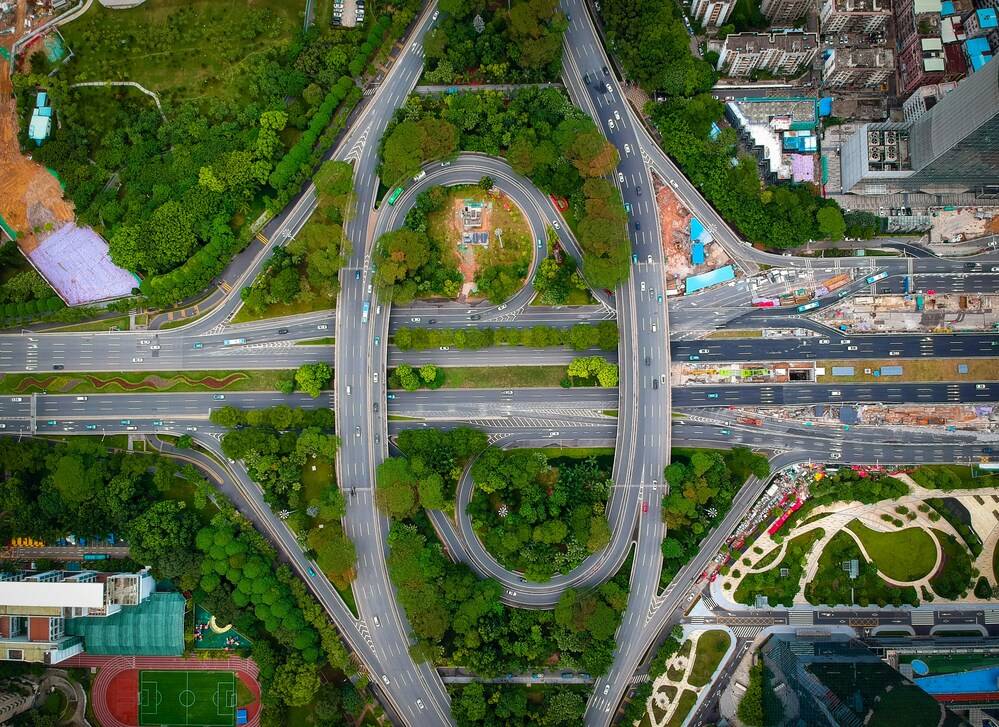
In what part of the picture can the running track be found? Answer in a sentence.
The running track is in the bottom left part of the image.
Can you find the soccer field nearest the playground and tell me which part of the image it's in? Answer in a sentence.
The soccer field nearest the playground is located in the bottom left region of the scene.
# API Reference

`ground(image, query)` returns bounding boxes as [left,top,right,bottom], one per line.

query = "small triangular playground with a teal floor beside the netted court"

[194,605,251,651]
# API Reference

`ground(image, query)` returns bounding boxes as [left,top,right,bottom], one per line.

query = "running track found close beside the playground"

[52,657,260,727]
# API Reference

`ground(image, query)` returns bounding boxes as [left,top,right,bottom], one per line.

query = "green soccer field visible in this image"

[139,669,237,727]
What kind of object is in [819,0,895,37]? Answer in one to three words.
building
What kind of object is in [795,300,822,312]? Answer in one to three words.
vehicle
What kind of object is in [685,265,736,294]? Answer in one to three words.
shed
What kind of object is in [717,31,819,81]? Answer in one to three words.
building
